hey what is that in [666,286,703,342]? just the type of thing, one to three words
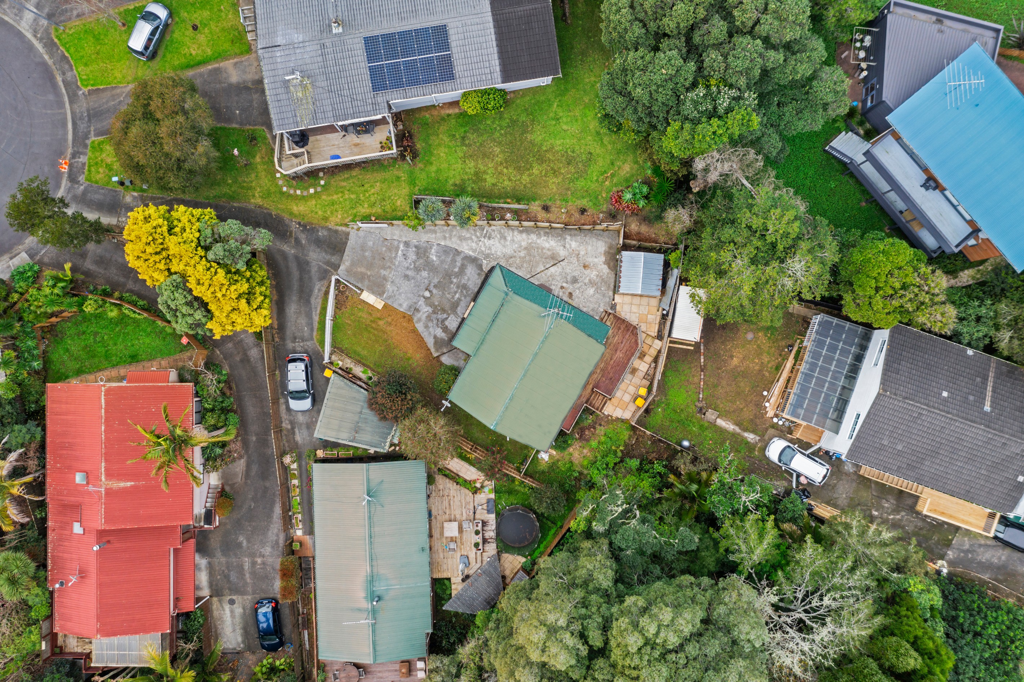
shed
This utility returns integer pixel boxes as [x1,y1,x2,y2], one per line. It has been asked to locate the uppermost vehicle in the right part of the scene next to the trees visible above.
[765,440,831,486]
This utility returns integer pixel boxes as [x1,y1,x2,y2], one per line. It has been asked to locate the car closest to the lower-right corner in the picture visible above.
[999,524,1024,555]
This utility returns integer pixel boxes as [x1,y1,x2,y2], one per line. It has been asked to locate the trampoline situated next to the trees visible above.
[495,504,544,565]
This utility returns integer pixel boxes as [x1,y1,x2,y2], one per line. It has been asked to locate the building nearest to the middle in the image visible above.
[447,264,611,451]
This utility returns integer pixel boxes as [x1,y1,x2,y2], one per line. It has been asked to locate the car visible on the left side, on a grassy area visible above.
[124,0,170,60]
